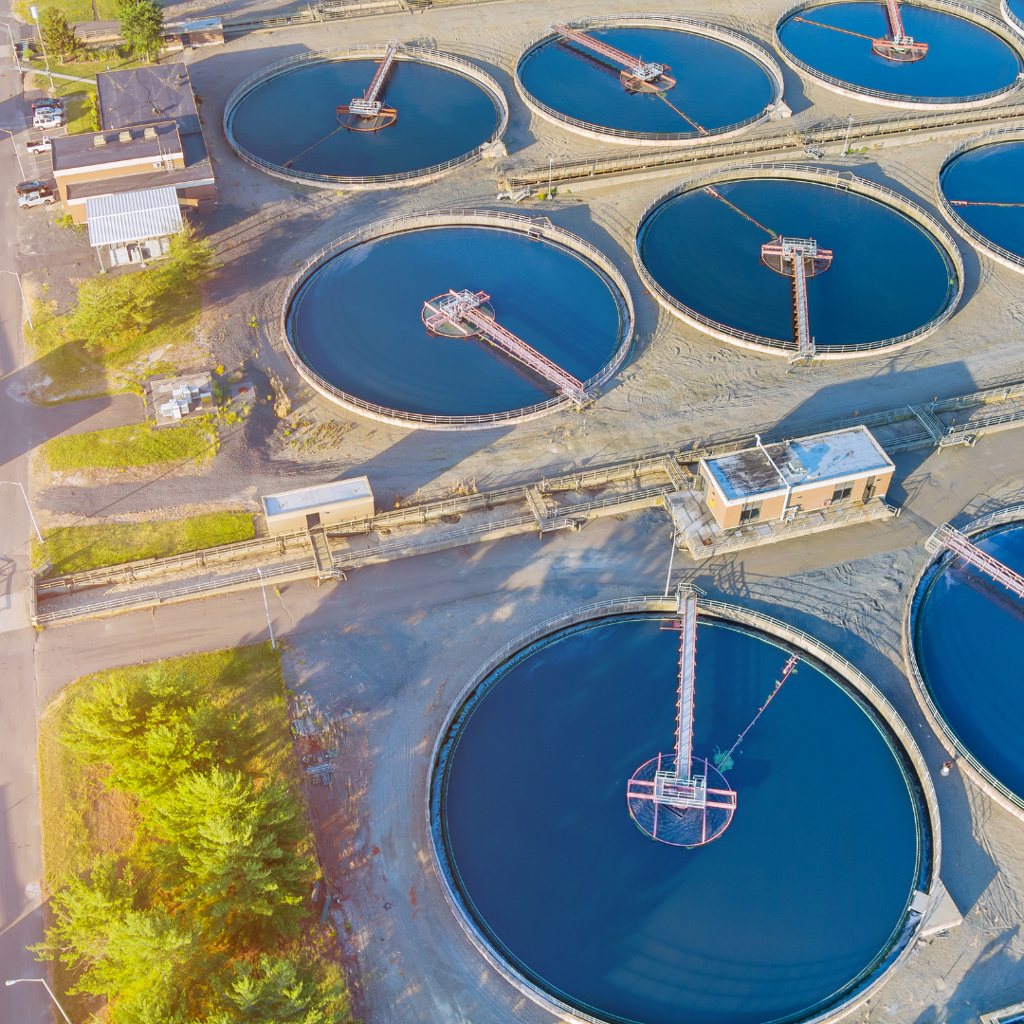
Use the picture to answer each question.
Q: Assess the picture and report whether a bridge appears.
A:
Yes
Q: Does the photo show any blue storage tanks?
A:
Yes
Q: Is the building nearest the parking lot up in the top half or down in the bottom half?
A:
top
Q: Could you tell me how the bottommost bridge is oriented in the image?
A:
up and down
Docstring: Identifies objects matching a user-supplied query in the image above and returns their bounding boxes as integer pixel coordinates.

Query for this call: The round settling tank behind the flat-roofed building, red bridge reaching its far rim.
[221,35,508,190]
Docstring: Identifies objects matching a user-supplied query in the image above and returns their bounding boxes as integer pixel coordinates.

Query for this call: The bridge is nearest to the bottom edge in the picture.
[669,578,713,776]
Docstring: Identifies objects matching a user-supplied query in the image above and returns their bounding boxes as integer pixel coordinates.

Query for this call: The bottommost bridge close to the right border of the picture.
[912,524,1024,601]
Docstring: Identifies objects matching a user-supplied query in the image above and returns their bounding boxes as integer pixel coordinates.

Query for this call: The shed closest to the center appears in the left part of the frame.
[260,472,375,529]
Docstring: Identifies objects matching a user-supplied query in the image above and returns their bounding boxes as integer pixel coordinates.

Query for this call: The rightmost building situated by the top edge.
[154,16,225,51]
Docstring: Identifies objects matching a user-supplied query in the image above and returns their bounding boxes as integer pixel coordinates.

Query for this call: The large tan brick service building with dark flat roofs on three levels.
[51,63,223,225]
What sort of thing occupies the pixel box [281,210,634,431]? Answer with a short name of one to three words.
storage tank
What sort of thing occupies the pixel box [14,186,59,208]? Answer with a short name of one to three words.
truck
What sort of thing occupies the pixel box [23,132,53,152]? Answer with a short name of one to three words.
vehicle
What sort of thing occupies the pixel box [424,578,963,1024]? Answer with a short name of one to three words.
storage tank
